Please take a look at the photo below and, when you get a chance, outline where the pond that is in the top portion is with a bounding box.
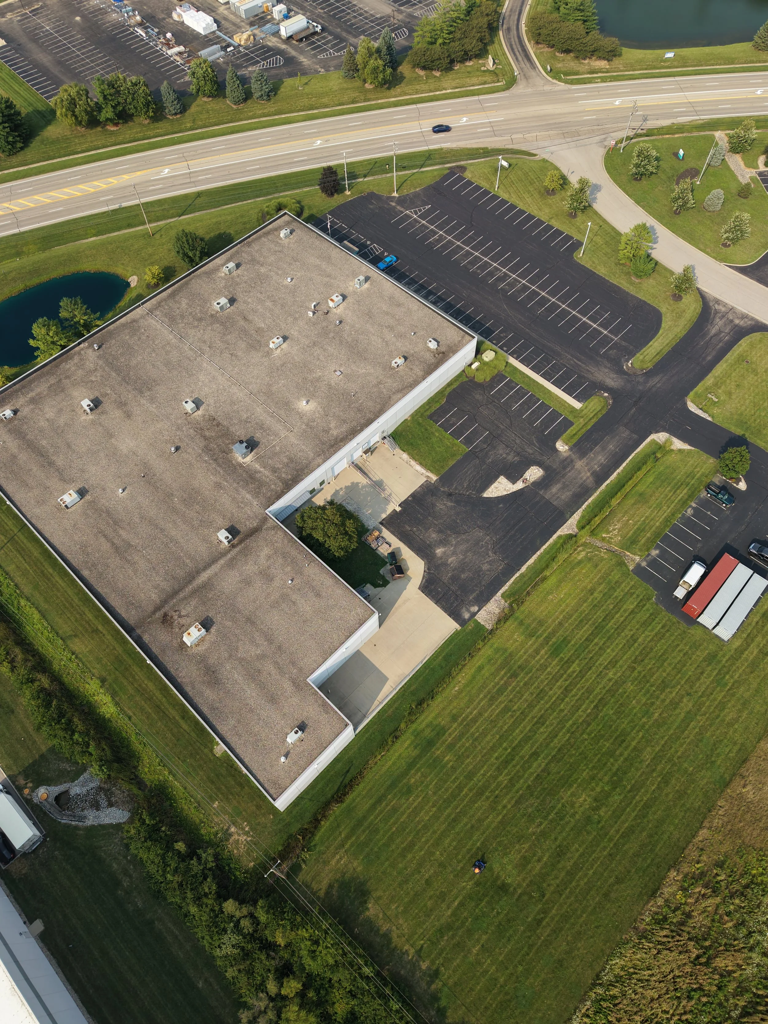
[0,275,126,365]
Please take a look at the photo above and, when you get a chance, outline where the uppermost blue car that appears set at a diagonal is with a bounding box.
[378,256,397,270]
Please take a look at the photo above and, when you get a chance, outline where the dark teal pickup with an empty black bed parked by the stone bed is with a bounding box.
[705,484,737,508]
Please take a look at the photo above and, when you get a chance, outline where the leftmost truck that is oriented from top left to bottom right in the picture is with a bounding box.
[0,785,48,857]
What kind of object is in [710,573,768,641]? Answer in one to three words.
shipping container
